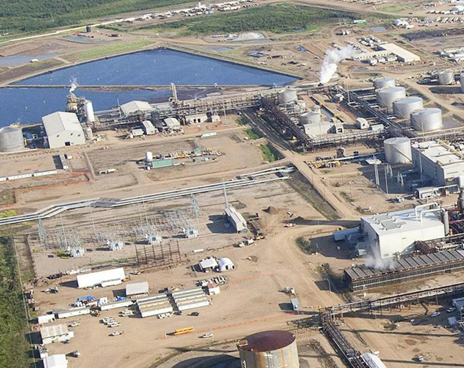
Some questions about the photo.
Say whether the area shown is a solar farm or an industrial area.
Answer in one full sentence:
The picture captures an industrial area.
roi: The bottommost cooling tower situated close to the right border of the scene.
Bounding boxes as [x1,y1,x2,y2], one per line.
[344,252,464,291]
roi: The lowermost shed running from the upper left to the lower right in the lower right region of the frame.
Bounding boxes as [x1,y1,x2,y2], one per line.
[358,340,393,368]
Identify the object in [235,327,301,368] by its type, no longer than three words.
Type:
storage tank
